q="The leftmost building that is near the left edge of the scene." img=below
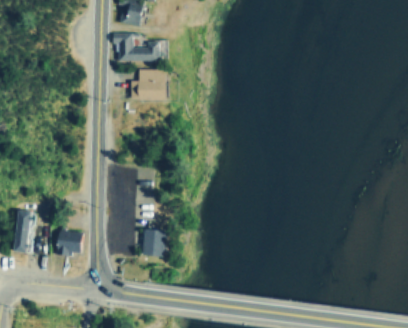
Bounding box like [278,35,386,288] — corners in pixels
[14,209,38,252]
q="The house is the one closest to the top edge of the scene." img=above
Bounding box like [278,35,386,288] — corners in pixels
[118,0,144,26]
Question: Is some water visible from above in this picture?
Yes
